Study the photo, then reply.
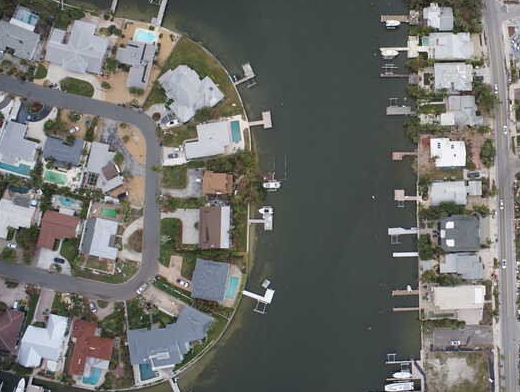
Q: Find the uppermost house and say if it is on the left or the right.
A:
right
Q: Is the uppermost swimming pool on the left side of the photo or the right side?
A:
left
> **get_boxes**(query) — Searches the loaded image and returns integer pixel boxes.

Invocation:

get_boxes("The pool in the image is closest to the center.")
[228,115,247,153]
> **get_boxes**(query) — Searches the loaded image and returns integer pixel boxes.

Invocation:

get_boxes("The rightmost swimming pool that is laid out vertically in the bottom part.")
[226,263,245,302]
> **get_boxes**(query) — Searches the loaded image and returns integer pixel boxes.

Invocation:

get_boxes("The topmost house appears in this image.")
[423,3,454,31]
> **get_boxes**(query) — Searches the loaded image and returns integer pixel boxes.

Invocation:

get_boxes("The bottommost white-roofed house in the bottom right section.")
[434,285,486,324]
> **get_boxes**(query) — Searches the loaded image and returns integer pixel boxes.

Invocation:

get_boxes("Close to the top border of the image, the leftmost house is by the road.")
[0,17,43,64]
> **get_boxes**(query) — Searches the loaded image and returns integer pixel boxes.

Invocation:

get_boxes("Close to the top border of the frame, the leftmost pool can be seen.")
[10,5,40,27]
